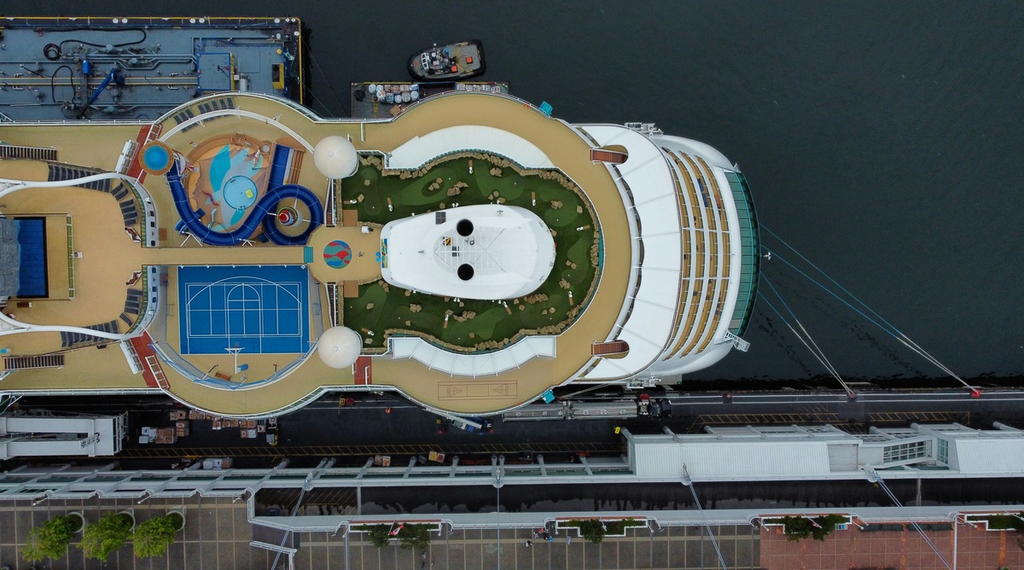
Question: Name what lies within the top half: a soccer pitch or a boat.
boat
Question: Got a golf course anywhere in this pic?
Yes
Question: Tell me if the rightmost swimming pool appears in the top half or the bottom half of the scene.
top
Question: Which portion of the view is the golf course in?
center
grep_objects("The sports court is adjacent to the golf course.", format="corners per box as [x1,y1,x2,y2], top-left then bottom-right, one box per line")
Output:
[178,266,309,377]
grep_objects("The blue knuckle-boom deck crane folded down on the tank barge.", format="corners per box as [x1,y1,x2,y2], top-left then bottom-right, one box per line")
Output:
[77,68,123,118]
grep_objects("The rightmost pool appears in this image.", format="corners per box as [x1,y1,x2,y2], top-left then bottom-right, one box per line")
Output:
[184,133,268,243]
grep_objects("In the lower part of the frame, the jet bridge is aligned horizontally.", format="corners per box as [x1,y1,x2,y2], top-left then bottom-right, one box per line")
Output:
[0,407,140,460]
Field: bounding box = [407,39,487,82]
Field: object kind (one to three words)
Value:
boat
